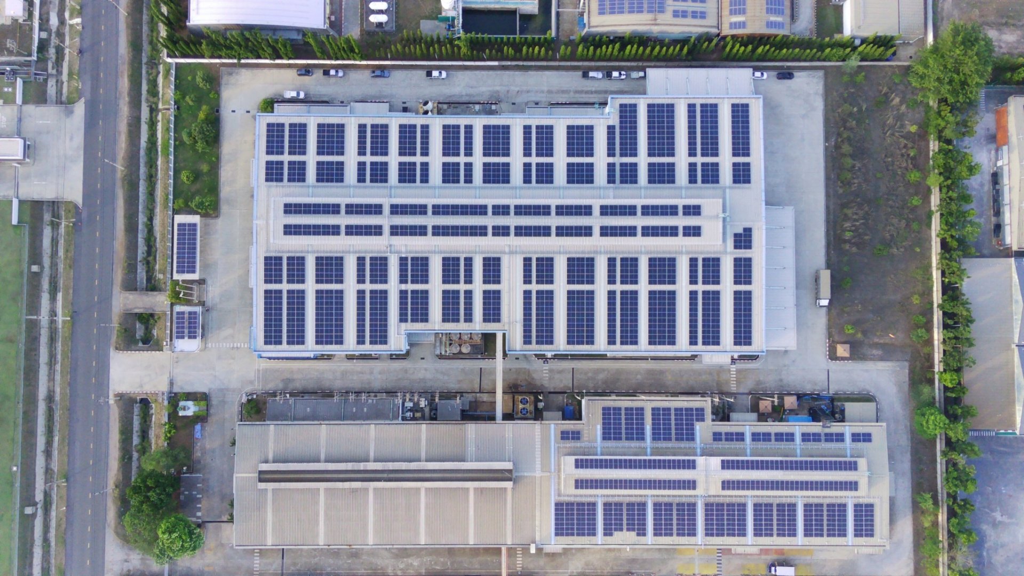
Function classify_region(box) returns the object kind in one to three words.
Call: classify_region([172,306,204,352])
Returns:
building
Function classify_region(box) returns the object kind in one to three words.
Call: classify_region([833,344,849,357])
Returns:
gazebo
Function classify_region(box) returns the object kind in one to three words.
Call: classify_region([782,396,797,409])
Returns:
gazebo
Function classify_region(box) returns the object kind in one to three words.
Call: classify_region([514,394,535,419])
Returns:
cooling tower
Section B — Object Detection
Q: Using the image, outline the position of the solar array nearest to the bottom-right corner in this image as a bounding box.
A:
[854,504,874,537]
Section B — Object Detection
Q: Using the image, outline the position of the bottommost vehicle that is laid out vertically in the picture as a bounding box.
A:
[816,269,831,307]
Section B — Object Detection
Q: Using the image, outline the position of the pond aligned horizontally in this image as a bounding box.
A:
[455,0,557,41]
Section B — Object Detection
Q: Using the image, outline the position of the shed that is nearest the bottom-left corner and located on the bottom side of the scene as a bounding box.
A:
[179,473,205,522]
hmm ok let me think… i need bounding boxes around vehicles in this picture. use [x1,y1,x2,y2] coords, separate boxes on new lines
[583,70,602,79]
[297,67,312,76]
[767,562,796,576]
[372,69,389,78]
[284,90,304,98]
[776,71,794,80]
[989,174,1005,214]
[427,71,446,79]
[323,68,343,77]
[630,70,646,79]
[753,71,766,80]
[606,70,626,79]
[816,269,831,307]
